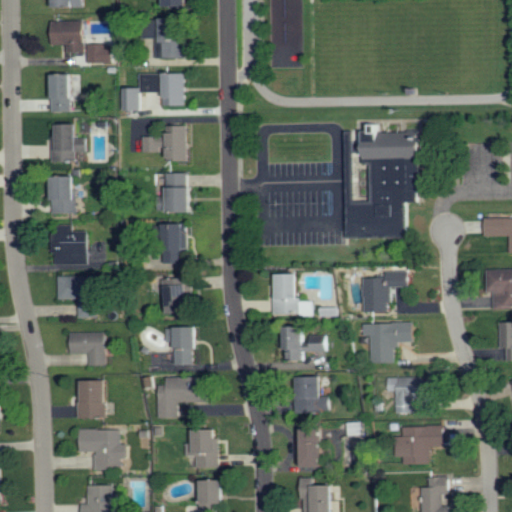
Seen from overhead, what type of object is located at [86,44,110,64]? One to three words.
building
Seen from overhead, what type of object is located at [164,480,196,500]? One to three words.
swimming pool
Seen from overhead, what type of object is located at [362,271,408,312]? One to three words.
house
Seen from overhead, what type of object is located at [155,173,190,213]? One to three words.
house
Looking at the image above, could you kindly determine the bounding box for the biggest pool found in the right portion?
[298,272,336,306]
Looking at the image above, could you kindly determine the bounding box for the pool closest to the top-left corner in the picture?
[82,20,111,44]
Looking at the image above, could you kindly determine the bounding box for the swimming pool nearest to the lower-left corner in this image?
[128,478,150,512]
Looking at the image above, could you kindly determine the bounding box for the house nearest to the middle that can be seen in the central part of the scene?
[272,271,299,316]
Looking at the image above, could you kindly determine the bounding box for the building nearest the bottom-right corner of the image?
[420,476,450,512]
